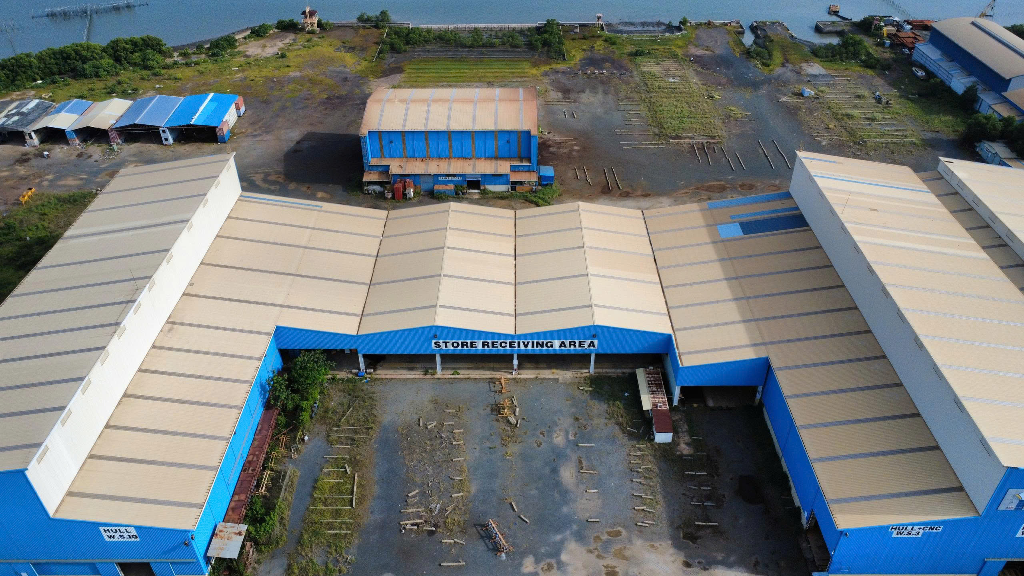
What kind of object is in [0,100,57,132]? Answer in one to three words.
shed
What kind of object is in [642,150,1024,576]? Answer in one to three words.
building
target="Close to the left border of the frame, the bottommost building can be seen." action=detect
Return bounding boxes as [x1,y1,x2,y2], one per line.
[0,152,325,576]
